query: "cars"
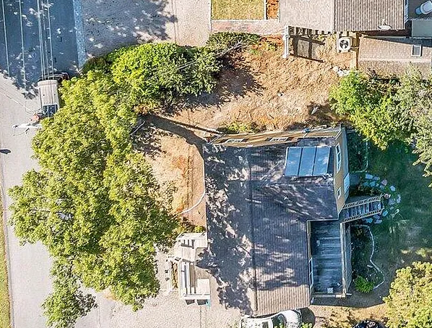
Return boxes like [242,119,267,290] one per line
[34,61,74,126]
[237,302,308,328]
[358,319,386,328]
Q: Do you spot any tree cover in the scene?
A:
Yes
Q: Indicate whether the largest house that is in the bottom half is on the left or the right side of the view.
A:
right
